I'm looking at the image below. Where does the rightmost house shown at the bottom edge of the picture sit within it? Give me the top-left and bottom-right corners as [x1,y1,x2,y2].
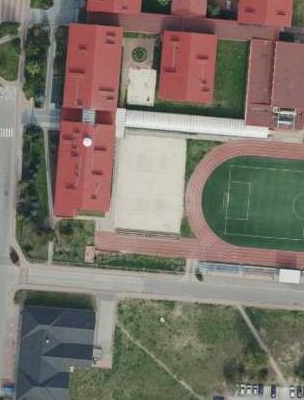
[18,306,97,400]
